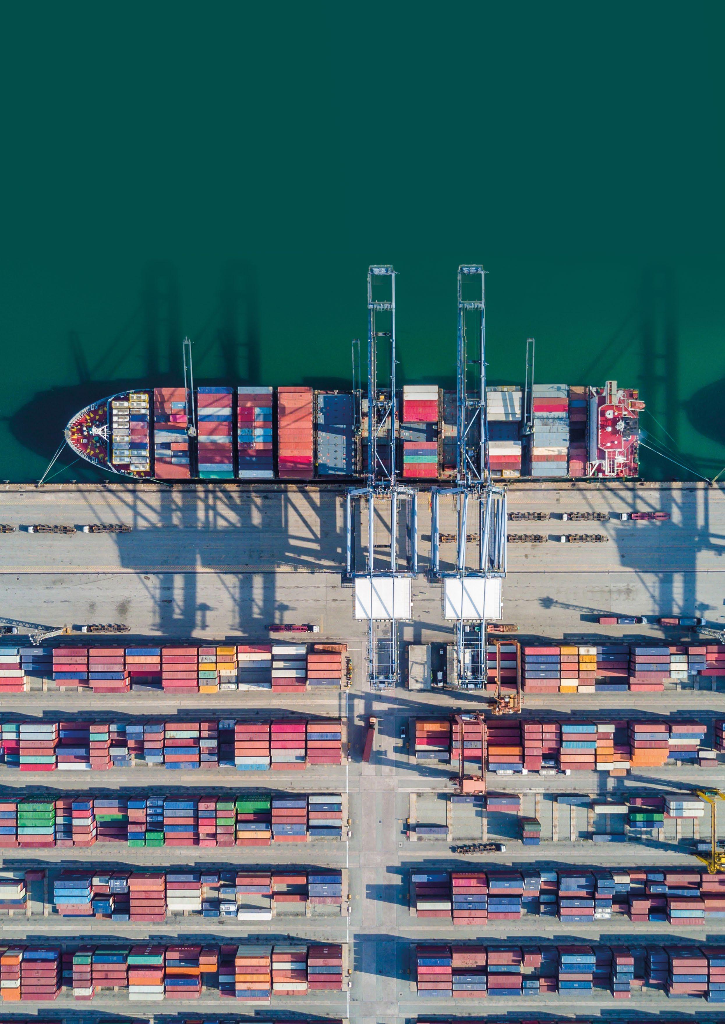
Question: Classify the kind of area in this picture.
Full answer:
What you see here is a port.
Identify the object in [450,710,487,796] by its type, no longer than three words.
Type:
container crane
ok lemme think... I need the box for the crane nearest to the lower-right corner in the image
[690,785,725,872]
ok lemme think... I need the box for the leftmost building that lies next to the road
[408,644,431,689]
